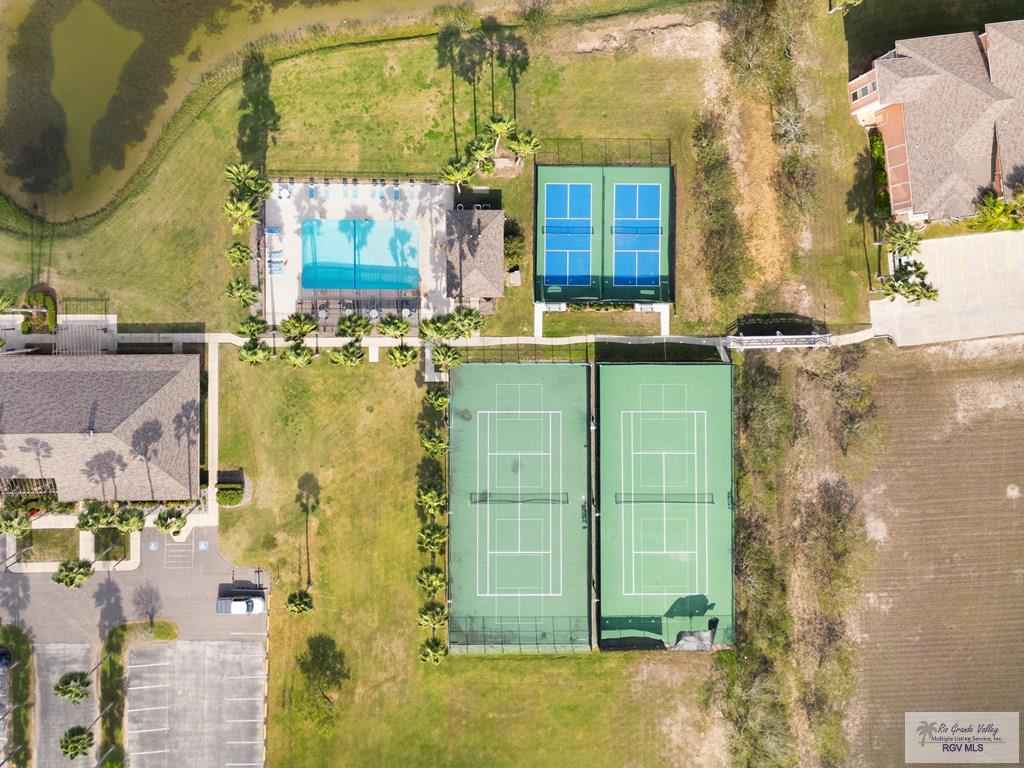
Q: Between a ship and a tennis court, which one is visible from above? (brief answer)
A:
tennis court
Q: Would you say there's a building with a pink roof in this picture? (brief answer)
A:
No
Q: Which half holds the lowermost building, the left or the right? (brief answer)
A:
left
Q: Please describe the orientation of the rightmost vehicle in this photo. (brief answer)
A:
from left to right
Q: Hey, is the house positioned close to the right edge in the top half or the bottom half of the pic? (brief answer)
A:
top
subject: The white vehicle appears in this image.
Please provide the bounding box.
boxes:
[217,595,266,615]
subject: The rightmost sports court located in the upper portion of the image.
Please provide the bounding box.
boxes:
[604,164,671,299]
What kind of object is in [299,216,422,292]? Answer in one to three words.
swimming pool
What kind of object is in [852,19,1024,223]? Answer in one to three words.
house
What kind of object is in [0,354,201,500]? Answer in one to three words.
building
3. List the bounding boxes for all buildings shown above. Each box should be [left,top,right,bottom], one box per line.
[852,19,1024,223]
[447,210,504,298]
[0,354,201,500]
